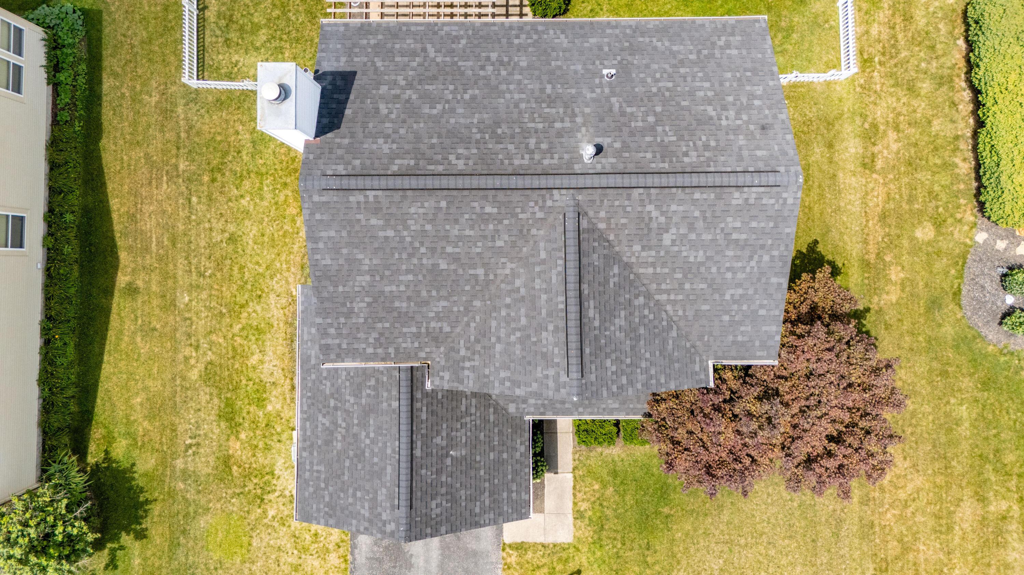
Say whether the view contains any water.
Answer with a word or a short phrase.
No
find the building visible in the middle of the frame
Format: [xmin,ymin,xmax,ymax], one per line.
[258,15,803,544]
